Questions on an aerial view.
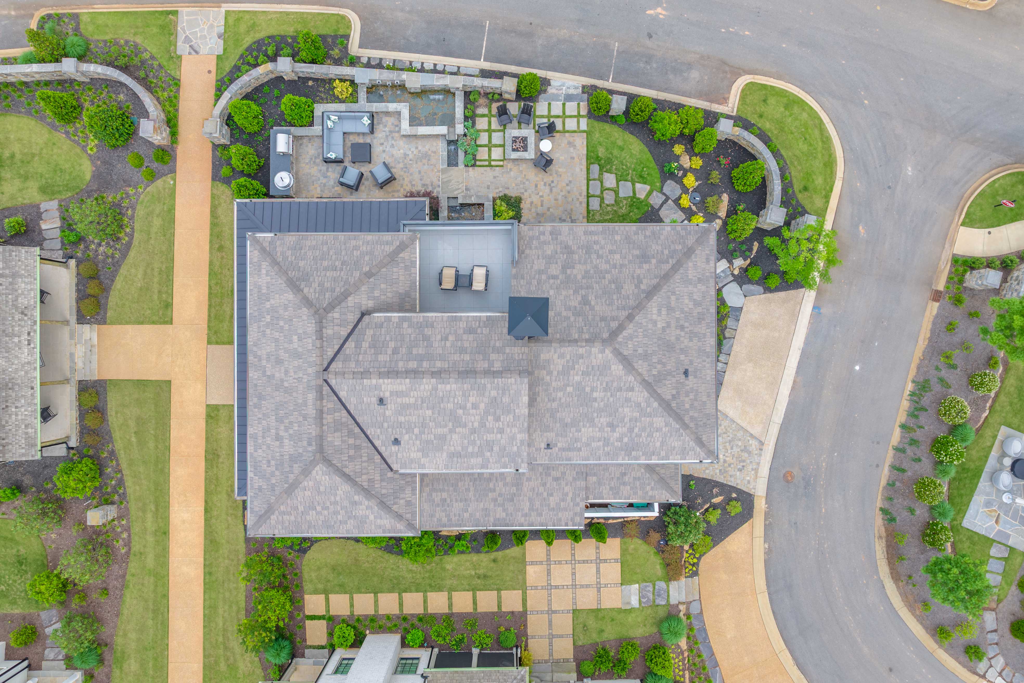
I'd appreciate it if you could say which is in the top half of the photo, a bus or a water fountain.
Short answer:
water fountain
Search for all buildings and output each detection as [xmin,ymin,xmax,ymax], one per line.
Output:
[0,641,87,683]
[0,245,98,461]
[259,633,531,683]
[233,198,719,539]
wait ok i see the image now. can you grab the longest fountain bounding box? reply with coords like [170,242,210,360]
[274,81,465,141]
